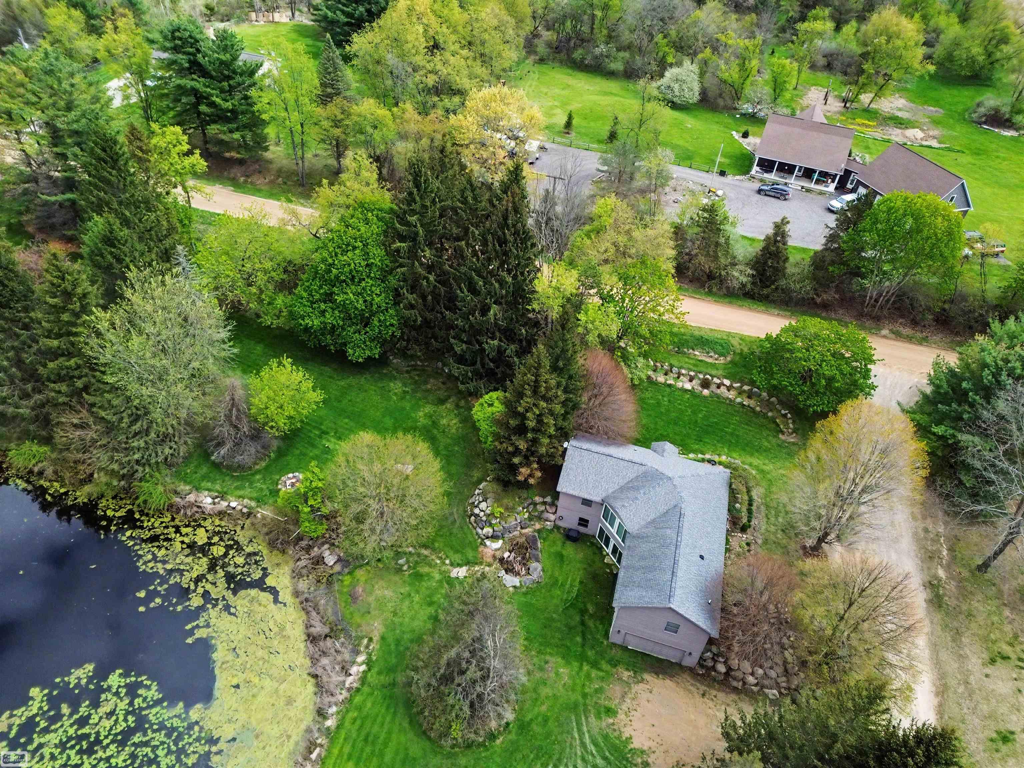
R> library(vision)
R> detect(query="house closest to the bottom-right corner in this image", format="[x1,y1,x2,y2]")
[555,434,732,667]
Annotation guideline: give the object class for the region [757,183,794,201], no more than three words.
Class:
car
